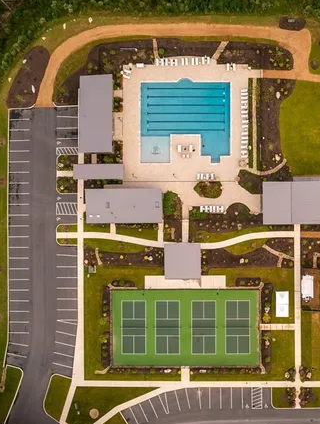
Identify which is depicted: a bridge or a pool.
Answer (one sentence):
This aerial view contains a pool.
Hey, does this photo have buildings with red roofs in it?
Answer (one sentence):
No, I can't see a single building with a red roof in this photo.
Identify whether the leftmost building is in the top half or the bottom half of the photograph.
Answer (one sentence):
The leftmost building is in the top half of the image.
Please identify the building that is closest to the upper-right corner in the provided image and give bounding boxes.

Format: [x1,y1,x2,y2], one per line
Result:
[262,181,320,225]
